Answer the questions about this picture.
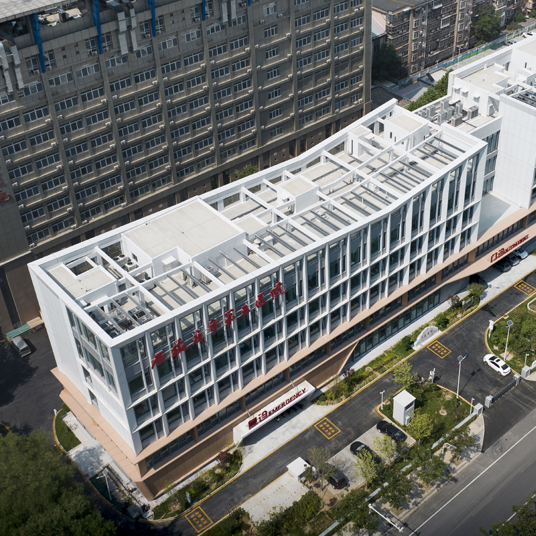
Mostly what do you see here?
buildings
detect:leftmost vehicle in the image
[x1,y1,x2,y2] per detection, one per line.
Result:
[8,331,34,360]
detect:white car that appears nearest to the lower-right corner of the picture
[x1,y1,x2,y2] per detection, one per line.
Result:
[481,357,513,378]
